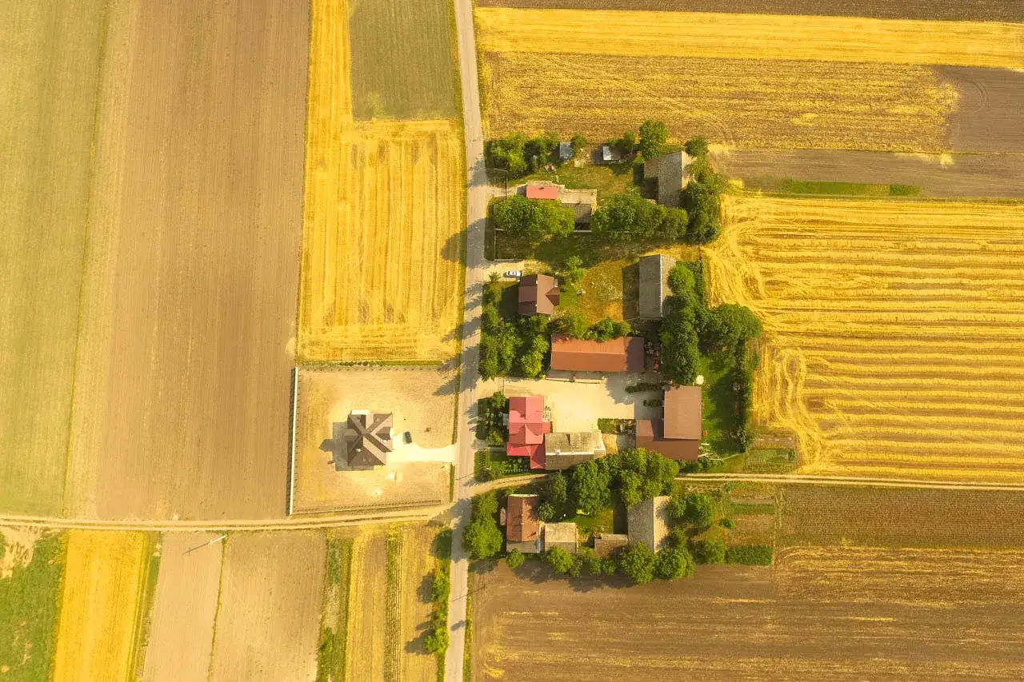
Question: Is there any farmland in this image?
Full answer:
Yes, farmland shows up in the scene.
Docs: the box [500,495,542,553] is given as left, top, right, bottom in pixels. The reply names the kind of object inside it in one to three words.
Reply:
house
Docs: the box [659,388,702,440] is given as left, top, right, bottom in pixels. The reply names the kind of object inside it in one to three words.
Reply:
barn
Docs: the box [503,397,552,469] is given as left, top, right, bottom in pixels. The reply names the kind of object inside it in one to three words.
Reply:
house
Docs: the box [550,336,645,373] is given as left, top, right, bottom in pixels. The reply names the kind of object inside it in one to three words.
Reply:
barn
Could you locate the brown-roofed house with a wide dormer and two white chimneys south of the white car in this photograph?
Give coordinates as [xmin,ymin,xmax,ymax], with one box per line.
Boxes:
[518,275,559,315]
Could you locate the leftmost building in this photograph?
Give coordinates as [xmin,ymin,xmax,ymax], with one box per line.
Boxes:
[342,410,392,465]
